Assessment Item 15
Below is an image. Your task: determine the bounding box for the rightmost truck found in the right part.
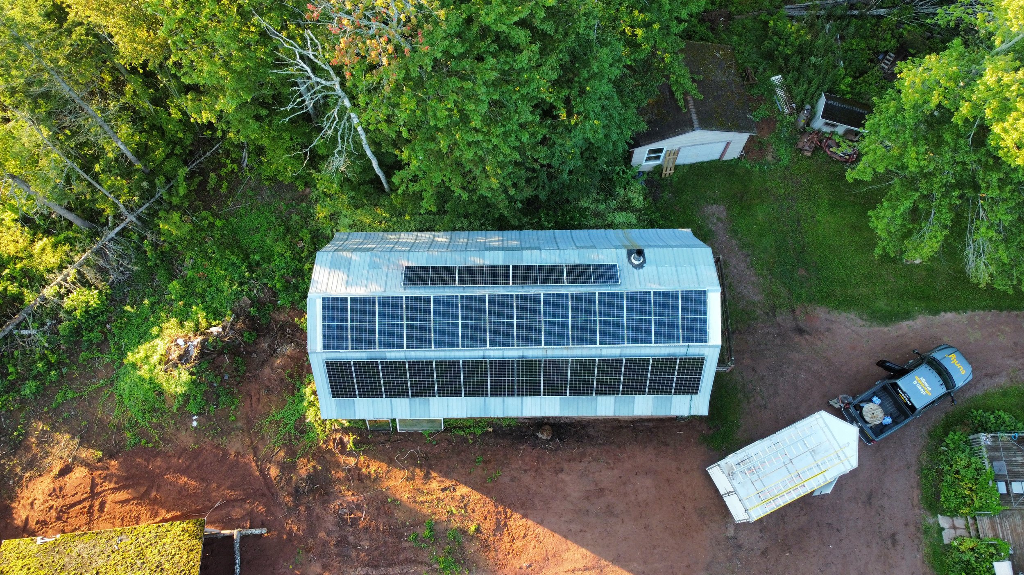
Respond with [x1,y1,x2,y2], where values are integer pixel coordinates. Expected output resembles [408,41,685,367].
[836,344,974,447]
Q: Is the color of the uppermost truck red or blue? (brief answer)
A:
blue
